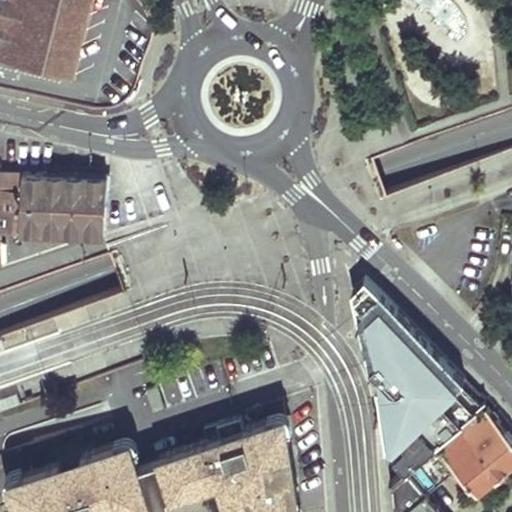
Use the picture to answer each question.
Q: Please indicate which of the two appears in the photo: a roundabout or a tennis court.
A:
roundabout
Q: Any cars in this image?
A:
Yes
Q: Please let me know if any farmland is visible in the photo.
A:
No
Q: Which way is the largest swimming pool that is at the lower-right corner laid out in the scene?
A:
on a diagonal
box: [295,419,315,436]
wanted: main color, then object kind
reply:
white car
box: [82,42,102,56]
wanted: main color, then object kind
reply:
white car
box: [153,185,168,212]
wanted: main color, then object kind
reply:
white vehicle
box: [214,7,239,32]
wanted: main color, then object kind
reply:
white vehicle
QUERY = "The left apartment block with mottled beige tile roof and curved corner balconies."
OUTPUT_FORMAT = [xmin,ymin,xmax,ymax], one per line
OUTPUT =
[3,435,148,512]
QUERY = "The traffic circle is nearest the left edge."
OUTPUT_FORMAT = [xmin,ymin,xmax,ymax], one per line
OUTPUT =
[180,33,304,157]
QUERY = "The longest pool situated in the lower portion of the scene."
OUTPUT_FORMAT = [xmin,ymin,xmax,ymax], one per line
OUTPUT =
[414,464,436,491]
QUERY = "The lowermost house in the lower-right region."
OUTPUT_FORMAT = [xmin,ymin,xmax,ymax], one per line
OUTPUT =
[392,474,422,512]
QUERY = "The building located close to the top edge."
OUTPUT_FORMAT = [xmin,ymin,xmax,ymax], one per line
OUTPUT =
[0,0,94,82]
